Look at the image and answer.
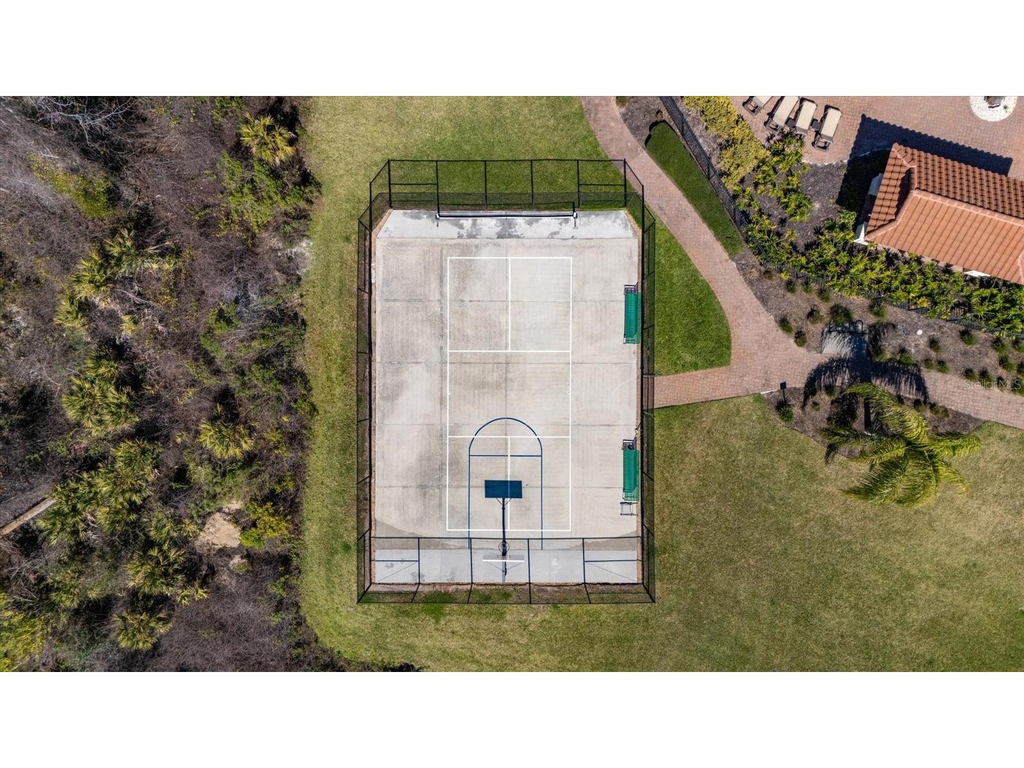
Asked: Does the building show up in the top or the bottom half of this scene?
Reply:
top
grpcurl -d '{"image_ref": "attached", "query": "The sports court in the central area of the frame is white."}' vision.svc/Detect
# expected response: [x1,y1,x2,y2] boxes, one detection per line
[375,210,639,583]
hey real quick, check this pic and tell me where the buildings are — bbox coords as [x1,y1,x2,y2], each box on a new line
[851,142,1024,290]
